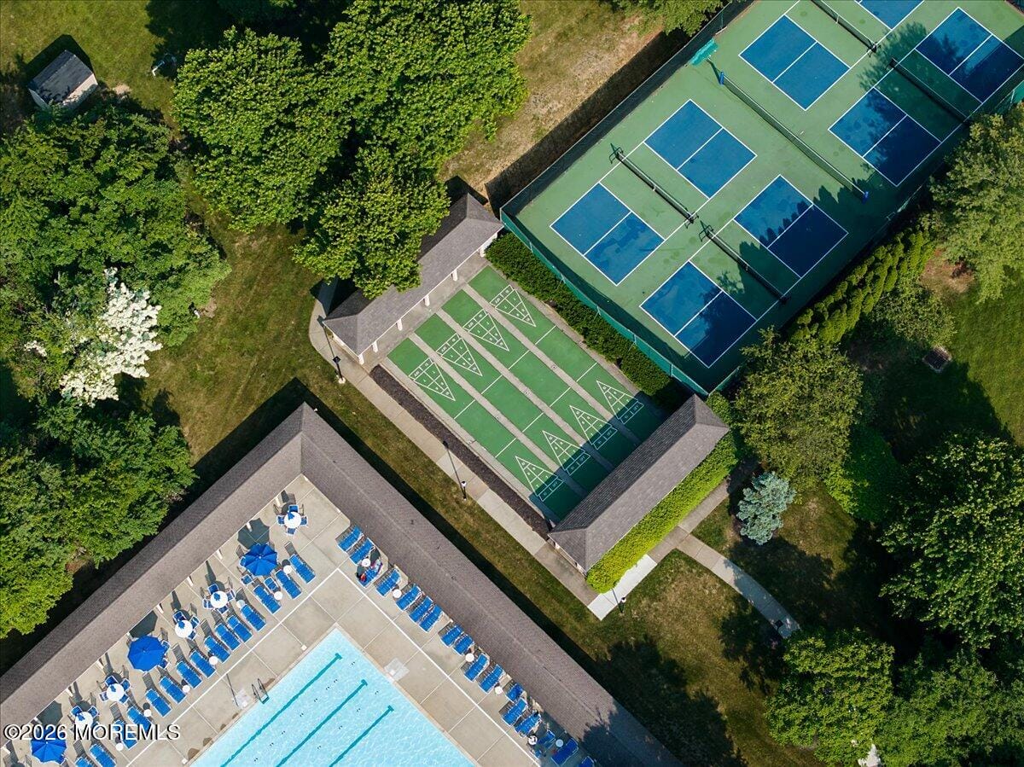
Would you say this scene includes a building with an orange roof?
No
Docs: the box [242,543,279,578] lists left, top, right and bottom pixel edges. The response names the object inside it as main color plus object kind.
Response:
blue umbrella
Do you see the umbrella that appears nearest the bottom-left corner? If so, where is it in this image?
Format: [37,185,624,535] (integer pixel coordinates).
[31,726,67,764]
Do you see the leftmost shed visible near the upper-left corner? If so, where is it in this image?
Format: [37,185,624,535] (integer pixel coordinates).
[27,51,99,123]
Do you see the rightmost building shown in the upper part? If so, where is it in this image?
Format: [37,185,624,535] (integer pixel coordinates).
[323,192,504,367]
